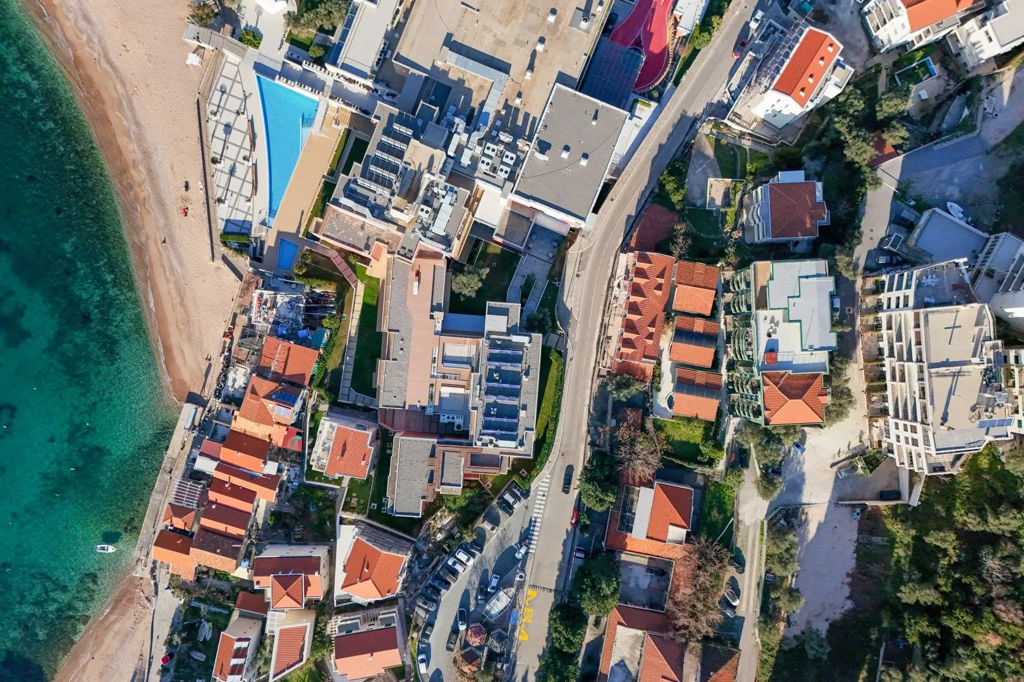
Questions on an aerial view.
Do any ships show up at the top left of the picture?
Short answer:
No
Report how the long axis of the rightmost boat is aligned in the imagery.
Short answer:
at an angle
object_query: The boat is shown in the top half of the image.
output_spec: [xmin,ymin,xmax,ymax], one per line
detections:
[947,202,971,222]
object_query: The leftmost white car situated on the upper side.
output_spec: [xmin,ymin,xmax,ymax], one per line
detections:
[746,9,764,30]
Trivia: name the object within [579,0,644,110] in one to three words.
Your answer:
sports court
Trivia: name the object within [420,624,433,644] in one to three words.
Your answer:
vehicle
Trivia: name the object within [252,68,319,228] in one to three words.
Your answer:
swimming pool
